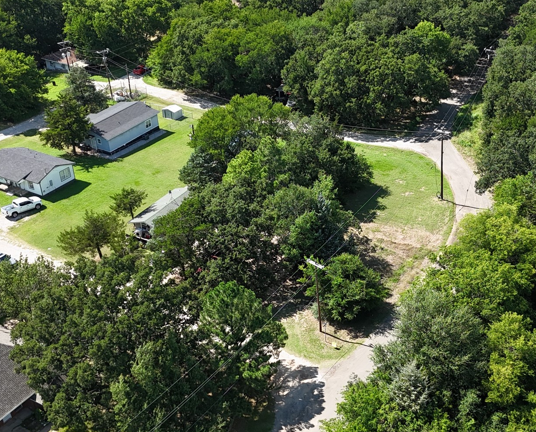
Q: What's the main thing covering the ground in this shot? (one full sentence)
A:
For the most part, this view shows trees.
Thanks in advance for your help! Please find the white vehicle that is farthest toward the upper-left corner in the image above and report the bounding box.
[1,197,44,217]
